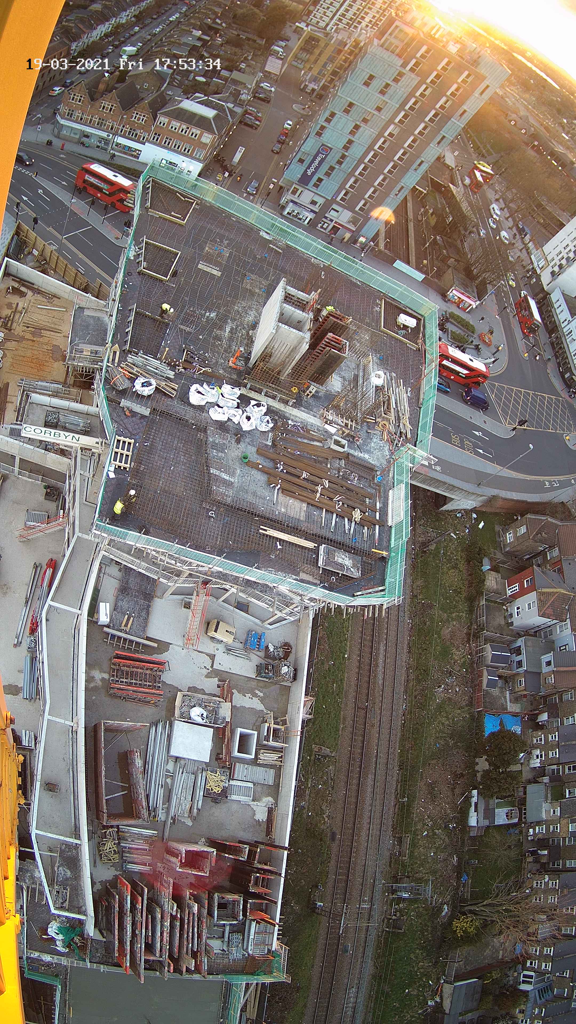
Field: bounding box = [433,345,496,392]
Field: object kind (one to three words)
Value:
bus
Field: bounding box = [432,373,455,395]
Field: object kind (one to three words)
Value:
car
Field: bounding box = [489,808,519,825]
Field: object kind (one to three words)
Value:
shed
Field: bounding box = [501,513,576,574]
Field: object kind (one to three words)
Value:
house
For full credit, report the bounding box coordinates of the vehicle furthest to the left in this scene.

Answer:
[18,150,41,166]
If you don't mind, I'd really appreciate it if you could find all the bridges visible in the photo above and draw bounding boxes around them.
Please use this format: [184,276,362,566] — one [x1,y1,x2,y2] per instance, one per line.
[406,462,493,521]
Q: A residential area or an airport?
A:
residential area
